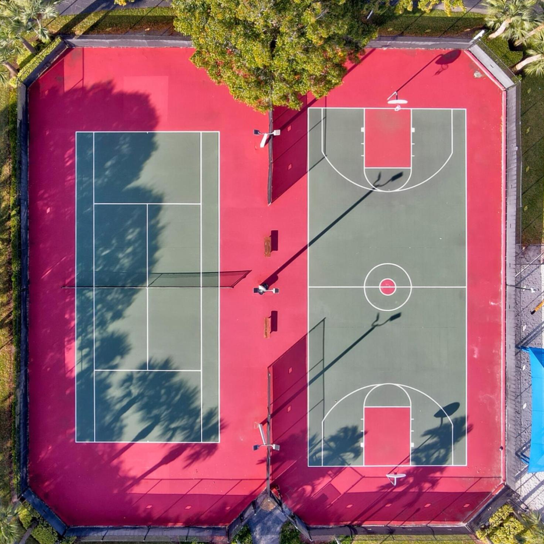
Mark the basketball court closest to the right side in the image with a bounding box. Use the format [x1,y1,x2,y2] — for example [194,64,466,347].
[269,48,506,526]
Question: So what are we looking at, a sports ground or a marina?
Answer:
sports ground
